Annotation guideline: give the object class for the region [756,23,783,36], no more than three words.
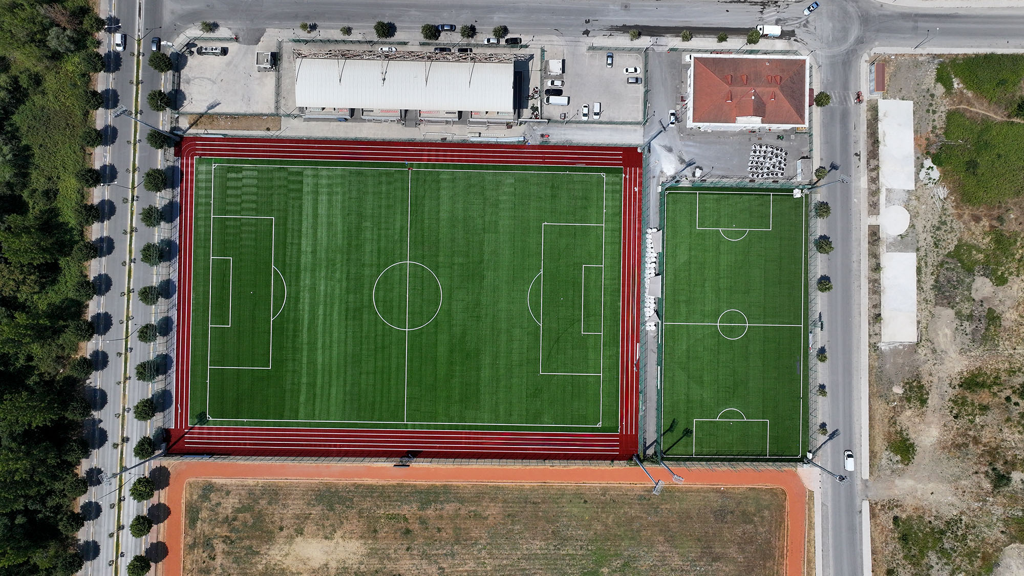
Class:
vehicle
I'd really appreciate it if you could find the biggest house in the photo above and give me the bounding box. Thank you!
[677,54,814,131]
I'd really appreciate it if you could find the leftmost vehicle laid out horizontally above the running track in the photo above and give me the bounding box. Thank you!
[197,45,227,57]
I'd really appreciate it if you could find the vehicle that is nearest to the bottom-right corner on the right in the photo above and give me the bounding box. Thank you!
[843,449,856,472]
